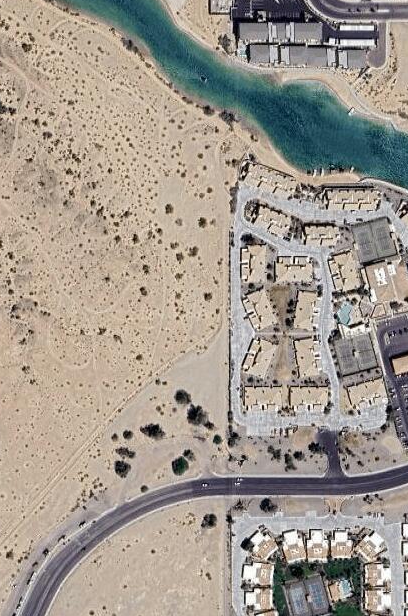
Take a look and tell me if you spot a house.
Yes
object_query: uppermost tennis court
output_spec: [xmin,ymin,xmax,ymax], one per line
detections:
[352,217,397,264]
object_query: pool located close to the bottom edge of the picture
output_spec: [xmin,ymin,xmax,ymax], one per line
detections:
[339,578,353,595]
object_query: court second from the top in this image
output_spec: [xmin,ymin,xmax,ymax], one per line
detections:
[333,332,378,376]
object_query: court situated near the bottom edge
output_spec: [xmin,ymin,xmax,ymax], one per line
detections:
[283,574,332,616]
